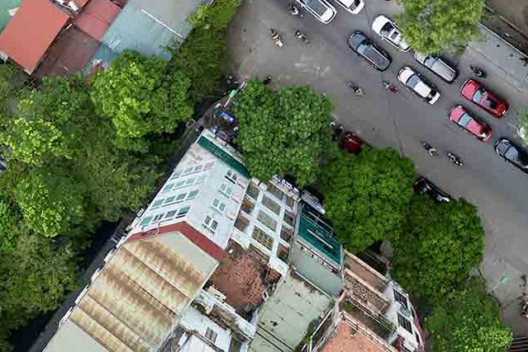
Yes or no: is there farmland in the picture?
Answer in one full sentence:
No, there's no farmland in this view.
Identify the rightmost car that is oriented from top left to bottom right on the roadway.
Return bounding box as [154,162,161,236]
[491,134,528,177]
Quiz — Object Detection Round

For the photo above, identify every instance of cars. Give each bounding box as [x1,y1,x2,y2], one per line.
[334,0,368,18]
[411,45,461,87]
[346,27,396,75]
[458,74,512,123]
[491,134,528,177]
[446,101,496,146]
[411,172,458,210]
[293,0,339,27]
[370,13,415,56]
[334,118,377,159]
[394,62,444,110]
